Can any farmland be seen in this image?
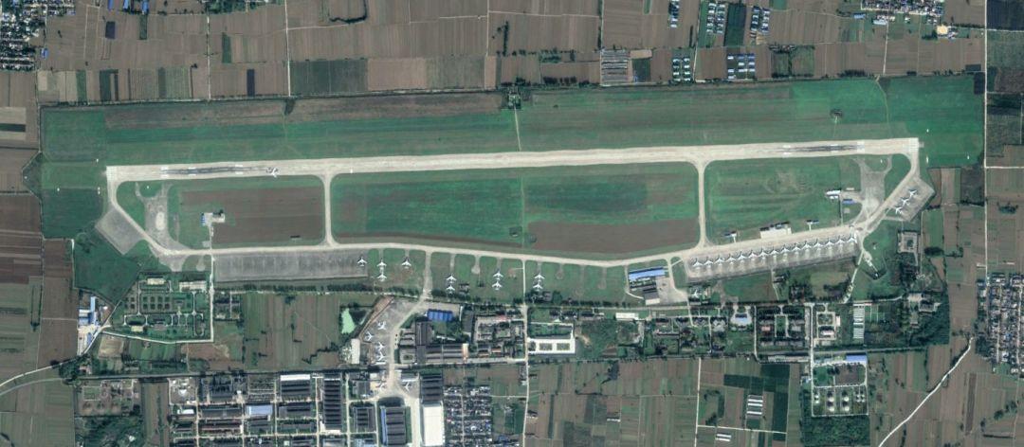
Yes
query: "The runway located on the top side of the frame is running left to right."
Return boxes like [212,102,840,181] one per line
[106,138,919,182]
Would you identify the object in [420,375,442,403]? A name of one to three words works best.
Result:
hangar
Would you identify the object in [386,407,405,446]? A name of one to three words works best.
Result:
hangar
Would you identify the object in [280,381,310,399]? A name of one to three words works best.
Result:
building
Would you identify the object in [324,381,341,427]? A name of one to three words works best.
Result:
building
